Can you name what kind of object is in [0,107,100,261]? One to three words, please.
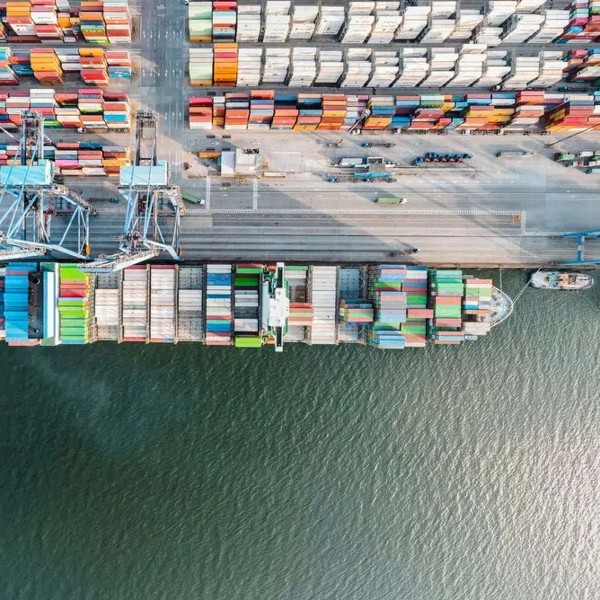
container crane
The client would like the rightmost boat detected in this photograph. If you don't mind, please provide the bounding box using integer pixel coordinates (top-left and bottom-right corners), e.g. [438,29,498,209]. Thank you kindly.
[527,272,594,291]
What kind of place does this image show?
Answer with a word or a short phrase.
port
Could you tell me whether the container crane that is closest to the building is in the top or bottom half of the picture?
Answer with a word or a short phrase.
top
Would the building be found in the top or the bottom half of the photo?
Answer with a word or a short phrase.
top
